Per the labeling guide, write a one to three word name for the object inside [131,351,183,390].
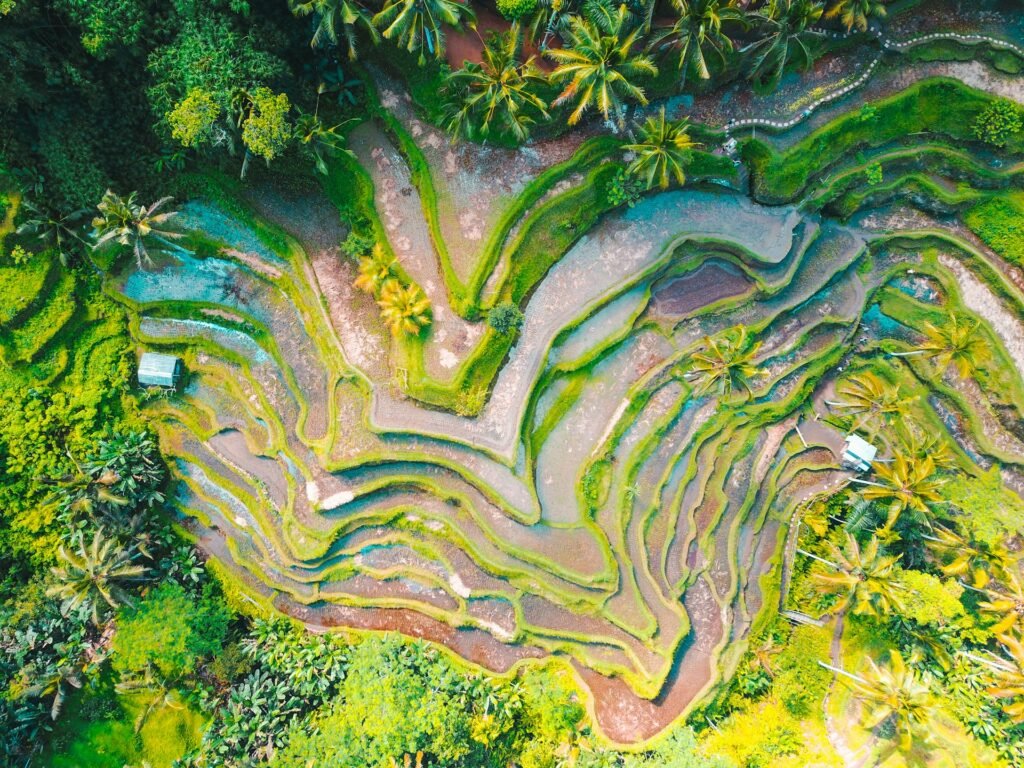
shed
